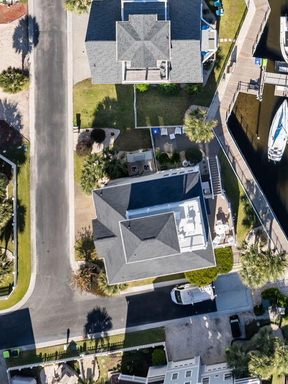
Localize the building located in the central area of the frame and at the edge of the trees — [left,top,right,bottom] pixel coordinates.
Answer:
[91,157,237,286]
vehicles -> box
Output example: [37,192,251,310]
[229,313,242,340]
[170,285,216,310]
